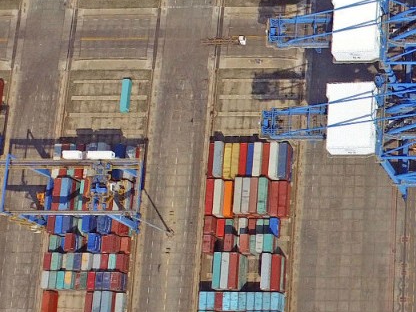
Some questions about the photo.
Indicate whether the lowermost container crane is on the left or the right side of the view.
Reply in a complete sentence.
The lowermost container crane appears in the left half of the scene.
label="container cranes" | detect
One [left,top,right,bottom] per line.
[260,73,416,202]
[0,143,146,233]
[266,0,416,108]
